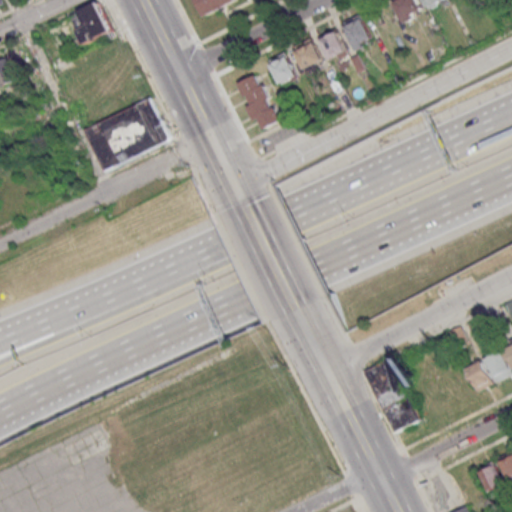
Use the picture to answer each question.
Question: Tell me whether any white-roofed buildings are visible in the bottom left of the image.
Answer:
No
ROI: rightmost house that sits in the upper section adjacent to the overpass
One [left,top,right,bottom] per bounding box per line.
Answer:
[238,74,280,128]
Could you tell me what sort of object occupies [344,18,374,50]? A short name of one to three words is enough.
house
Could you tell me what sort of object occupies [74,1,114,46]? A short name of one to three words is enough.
building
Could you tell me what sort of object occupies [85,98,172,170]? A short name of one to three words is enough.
building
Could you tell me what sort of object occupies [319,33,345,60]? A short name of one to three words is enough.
house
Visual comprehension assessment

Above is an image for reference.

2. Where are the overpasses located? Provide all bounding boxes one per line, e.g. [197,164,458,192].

[189,144,348,356]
